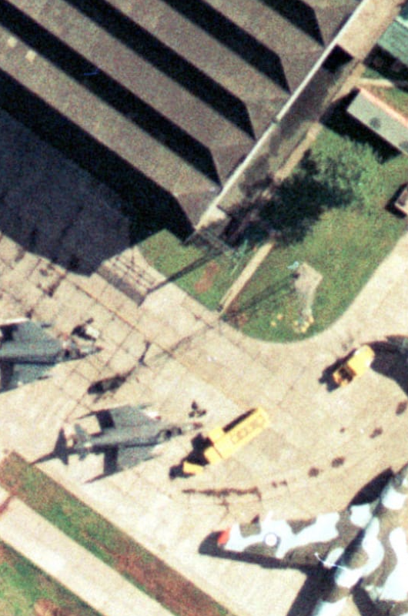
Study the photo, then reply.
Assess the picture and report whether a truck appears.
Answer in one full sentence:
Yes, looking at the shot, I can spot a truck.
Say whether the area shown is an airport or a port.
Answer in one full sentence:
This image shows an airport.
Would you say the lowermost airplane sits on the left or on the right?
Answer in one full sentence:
The lowermost airplane appears in the right half of the scene.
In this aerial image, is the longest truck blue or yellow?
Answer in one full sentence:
From above, the longest truck appears yellow.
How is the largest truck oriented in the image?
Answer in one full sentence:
The largest truck has been laid out on a diagonal relative to the frame.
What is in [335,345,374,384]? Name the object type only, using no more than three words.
work vehicle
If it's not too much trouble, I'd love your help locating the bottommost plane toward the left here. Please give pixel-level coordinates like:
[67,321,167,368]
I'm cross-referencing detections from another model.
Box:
[78,409,203,476]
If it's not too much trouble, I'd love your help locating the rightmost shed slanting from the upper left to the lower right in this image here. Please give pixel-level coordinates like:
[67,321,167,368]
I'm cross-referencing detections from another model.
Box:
[346,82,408,156]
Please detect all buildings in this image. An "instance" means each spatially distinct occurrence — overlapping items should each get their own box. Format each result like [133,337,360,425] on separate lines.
[378,10,408,66]
[0,0,365,241]
[346,82,408,156]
